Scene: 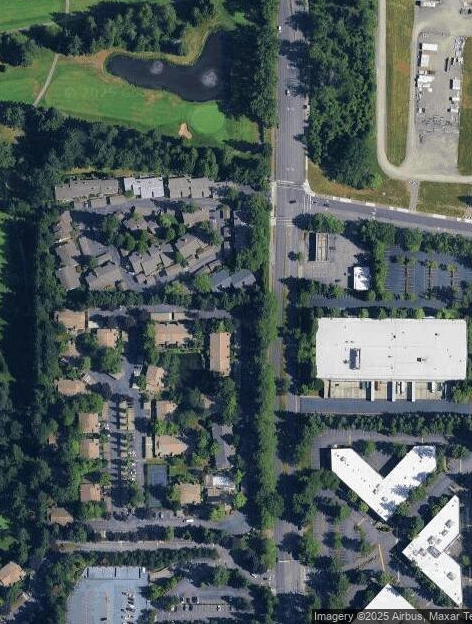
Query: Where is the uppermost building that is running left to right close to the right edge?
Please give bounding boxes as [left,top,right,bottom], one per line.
[316,318,467,384]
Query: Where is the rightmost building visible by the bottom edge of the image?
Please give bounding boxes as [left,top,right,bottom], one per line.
[402,496,462,607]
